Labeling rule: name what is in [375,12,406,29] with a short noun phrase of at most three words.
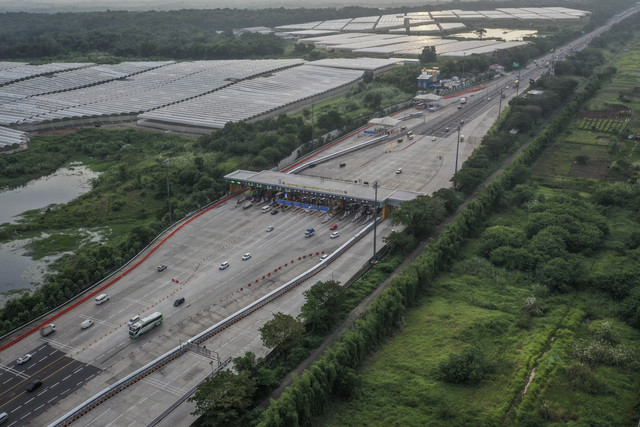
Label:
greenhouse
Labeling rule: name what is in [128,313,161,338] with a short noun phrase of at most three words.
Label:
bus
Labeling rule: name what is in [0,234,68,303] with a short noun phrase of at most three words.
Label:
pond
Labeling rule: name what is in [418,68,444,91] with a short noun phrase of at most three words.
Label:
building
